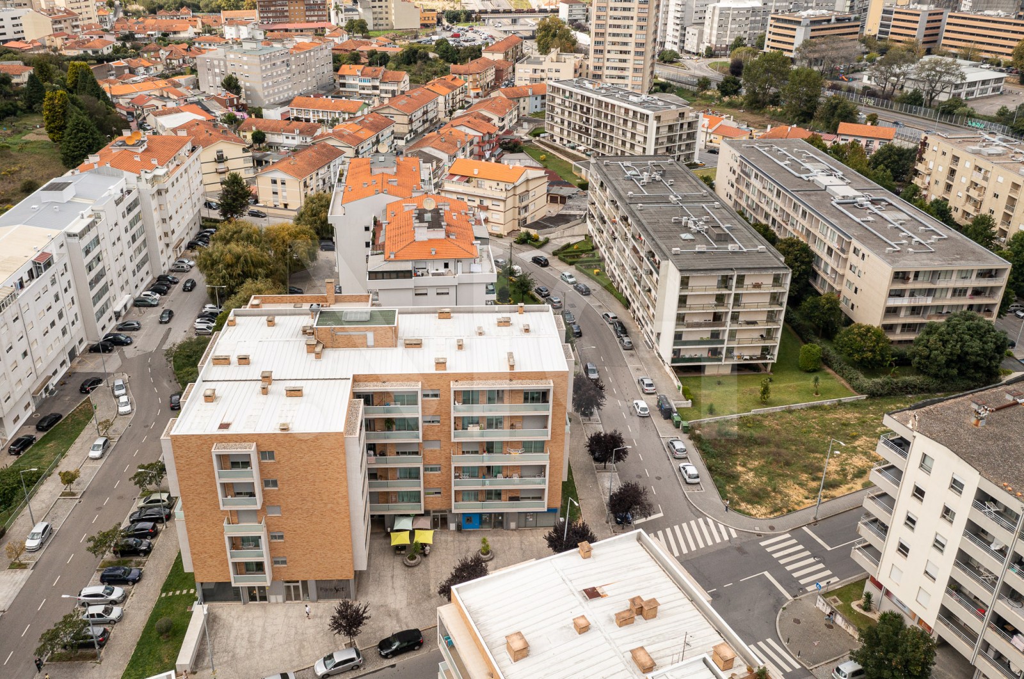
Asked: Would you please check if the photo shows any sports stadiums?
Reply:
No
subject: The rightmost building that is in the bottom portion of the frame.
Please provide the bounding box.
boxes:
[851,367,1024,679]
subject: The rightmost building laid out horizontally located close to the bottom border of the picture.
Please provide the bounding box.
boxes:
[431,526,792,679]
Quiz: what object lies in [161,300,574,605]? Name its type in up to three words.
building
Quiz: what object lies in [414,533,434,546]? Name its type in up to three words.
umbrella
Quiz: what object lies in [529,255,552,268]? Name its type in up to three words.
vehicle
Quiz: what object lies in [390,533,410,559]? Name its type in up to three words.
umbrella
